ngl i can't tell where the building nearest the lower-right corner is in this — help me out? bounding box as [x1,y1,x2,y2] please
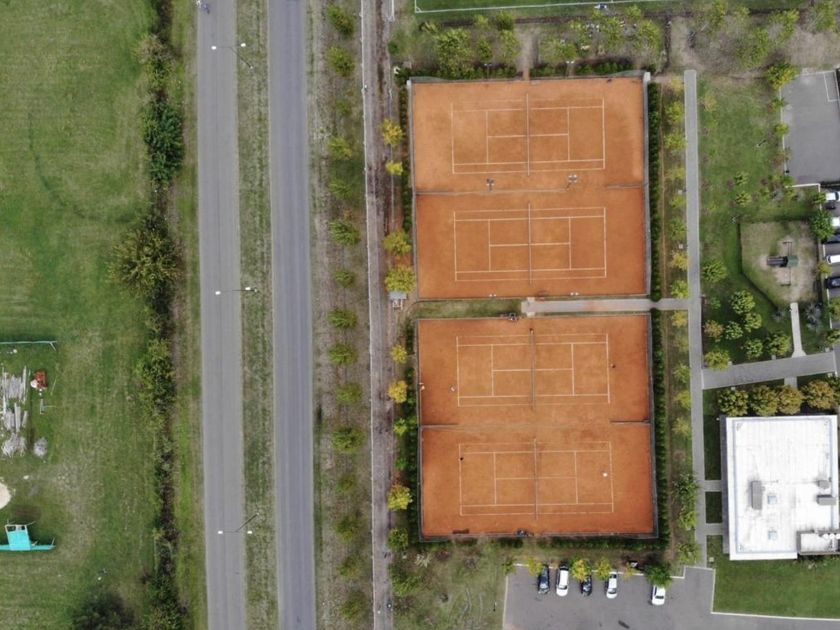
[719,413,840,560]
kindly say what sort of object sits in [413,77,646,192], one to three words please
tennis court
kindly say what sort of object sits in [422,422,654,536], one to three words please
tennis court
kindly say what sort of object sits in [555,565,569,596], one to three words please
vehicle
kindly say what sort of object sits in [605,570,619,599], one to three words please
vehicle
